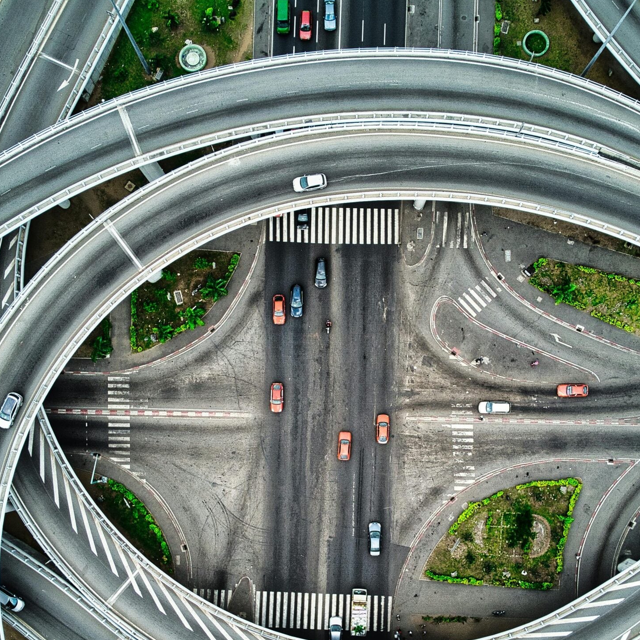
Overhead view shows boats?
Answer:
No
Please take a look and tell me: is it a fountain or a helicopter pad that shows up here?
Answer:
fountain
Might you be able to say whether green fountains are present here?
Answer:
Yes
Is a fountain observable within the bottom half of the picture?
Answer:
No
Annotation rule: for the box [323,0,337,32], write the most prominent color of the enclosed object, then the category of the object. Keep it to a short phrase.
blue car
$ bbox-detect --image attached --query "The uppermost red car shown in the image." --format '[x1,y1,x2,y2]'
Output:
[298,10,313,41]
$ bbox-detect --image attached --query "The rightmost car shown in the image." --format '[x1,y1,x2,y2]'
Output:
[556,384,588,397]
